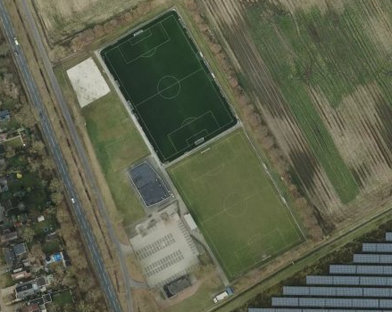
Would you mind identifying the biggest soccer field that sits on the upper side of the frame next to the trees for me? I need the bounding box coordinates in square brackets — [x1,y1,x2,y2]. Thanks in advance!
[103,14,236,160]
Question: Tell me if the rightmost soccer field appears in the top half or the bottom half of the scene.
bottom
